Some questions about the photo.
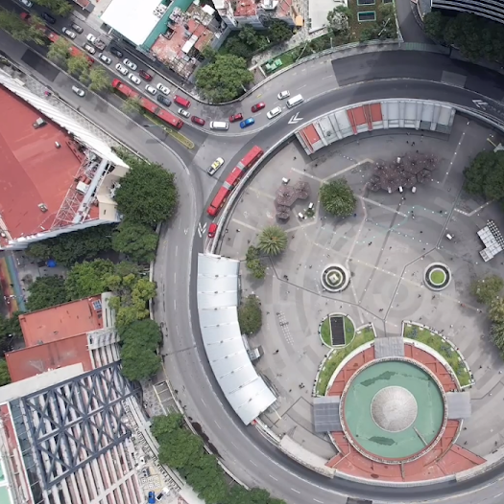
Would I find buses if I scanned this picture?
Yes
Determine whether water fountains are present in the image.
Yes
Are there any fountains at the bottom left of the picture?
No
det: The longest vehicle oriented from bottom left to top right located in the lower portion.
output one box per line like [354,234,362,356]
[153,486,171,500]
